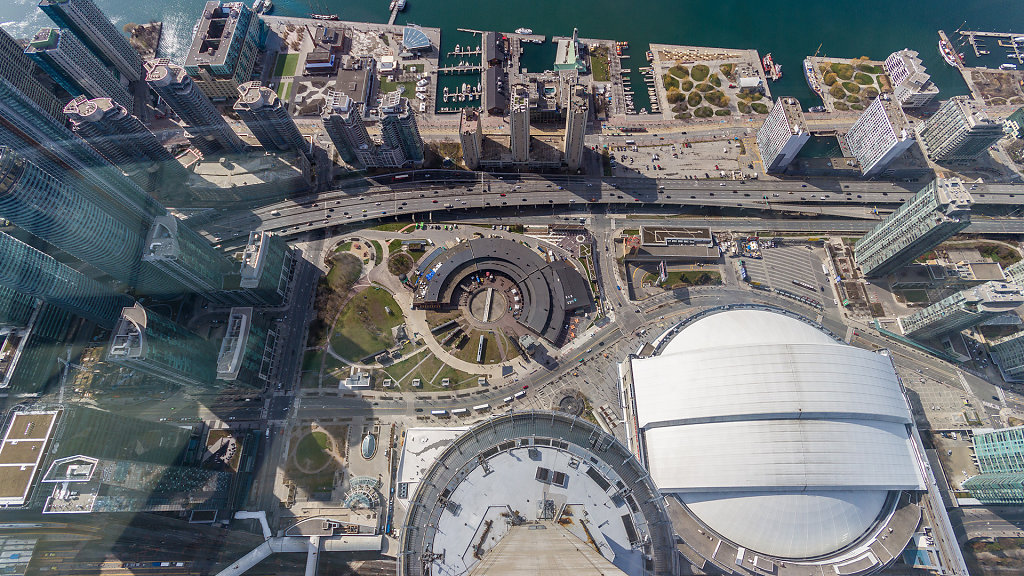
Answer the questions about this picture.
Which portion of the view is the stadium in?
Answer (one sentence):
Look in the bottom right portion of the view to spot the stadium.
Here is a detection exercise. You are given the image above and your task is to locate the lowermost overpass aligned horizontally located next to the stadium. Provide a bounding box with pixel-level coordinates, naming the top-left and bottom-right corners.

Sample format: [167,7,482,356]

[190,169,1024,250]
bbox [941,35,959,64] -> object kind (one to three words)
ship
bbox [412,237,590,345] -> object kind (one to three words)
building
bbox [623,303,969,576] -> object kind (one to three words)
stadium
